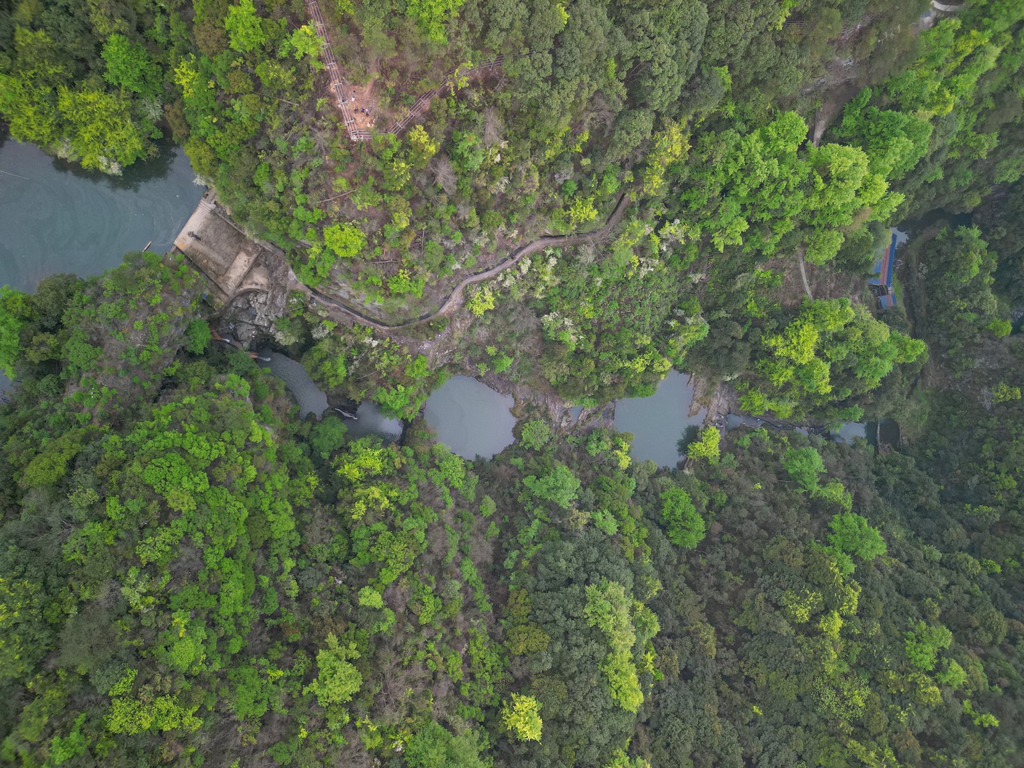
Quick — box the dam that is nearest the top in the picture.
[173,196,267,299]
